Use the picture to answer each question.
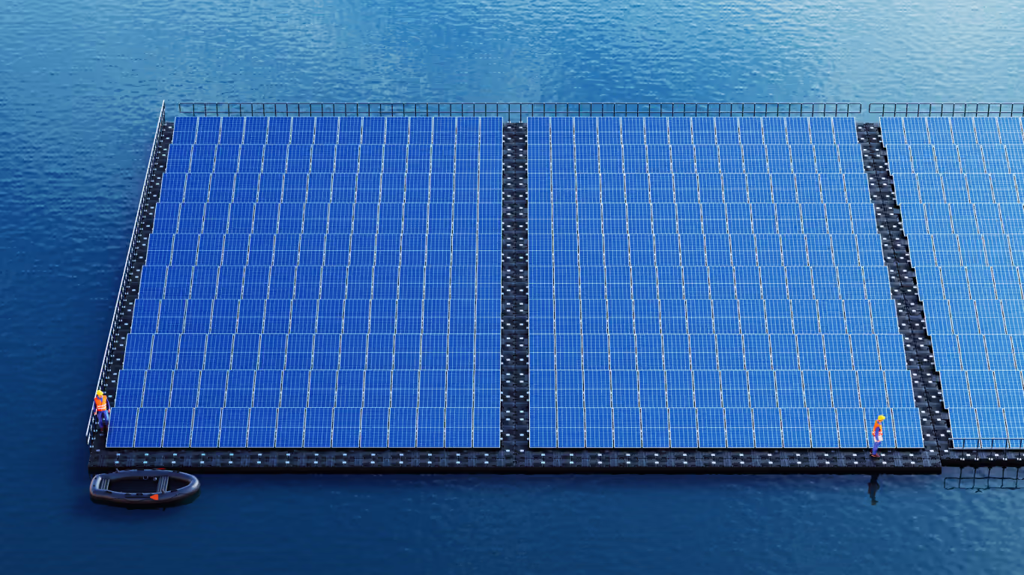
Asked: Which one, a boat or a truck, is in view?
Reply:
boat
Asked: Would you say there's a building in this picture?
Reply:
No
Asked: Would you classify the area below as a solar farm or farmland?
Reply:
solar farm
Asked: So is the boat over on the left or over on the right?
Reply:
left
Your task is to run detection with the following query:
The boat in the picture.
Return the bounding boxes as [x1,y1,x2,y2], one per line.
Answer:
[91,468,202,504]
